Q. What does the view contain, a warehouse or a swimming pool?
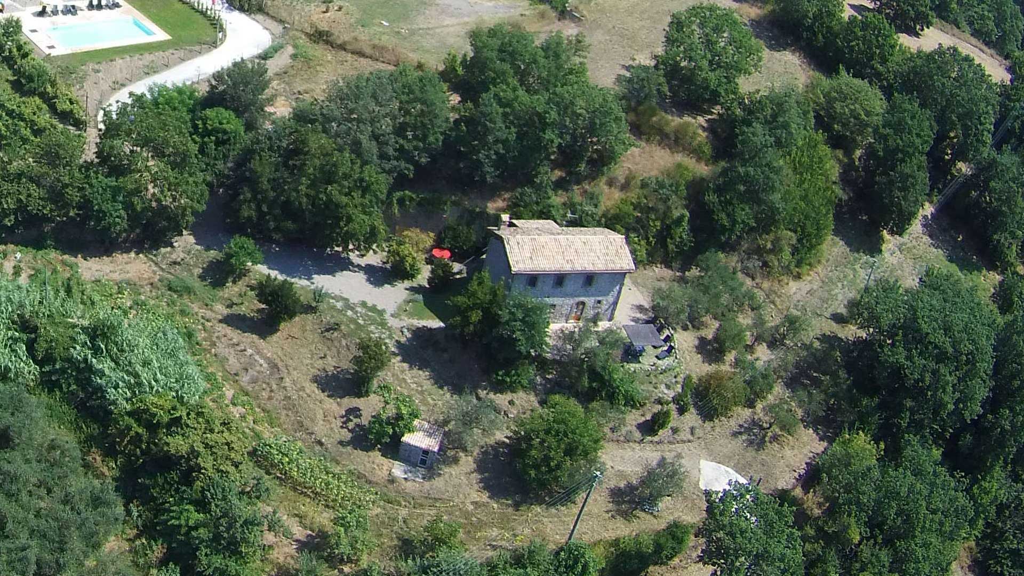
swimming pool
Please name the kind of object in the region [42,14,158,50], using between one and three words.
swimming pool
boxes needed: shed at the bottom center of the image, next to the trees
[402,416,447,470]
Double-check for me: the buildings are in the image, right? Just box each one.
[402,416,447,470]
[488,211,634,325]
